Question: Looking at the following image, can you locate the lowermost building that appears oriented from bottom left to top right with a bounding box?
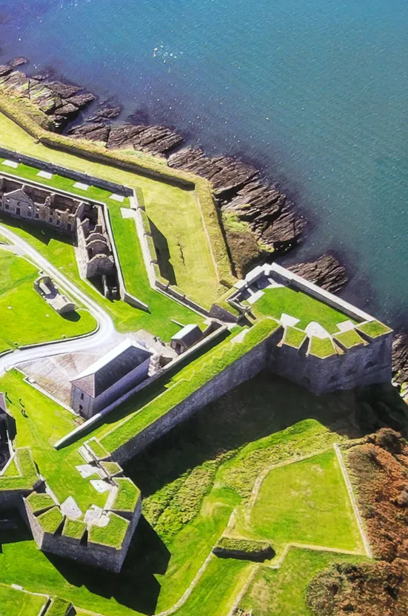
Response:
[69,339,154,418]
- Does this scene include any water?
Yes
